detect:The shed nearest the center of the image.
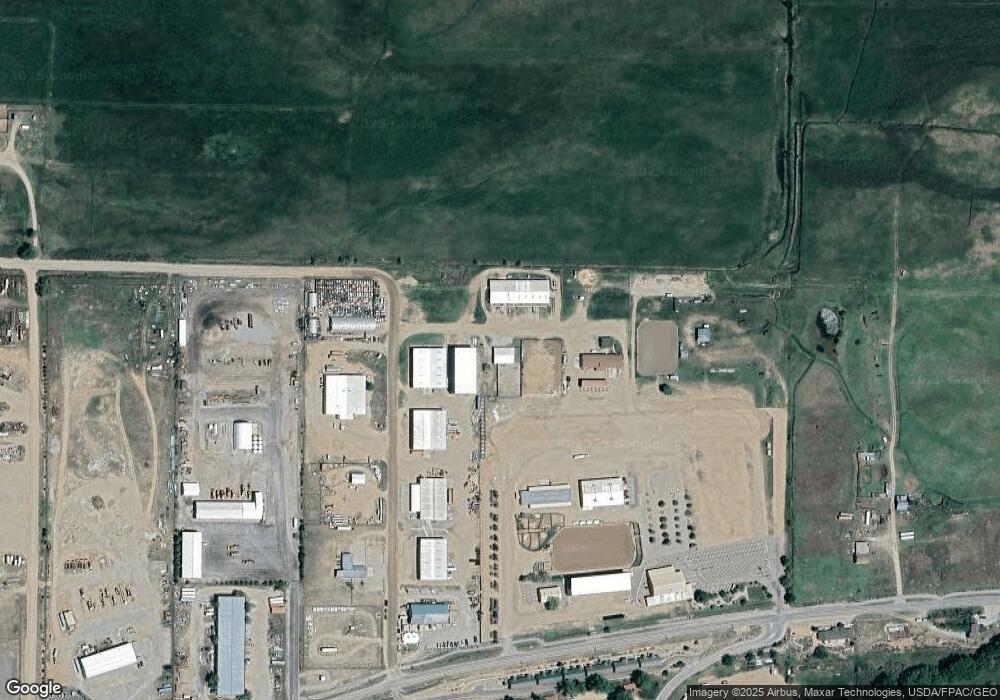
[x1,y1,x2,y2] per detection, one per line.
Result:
[494,348,515,363]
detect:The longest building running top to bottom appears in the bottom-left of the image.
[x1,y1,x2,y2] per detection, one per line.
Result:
[217,597,245,695]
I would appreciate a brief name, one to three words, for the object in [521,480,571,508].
barn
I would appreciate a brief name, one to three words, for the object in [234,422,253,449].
shed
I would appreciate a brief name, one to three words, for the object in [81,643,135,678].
building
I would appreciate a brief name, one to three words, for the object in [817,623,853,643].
house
